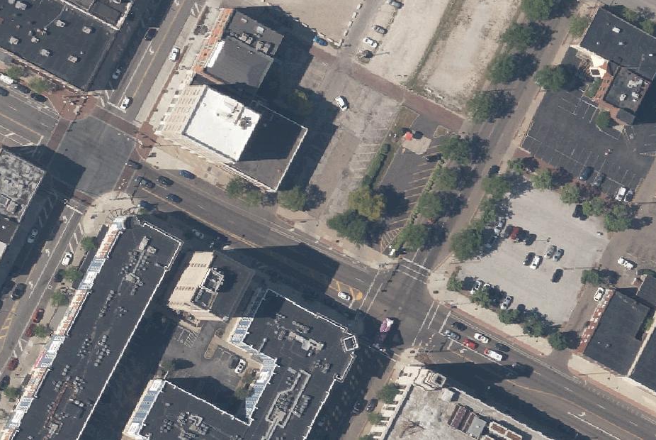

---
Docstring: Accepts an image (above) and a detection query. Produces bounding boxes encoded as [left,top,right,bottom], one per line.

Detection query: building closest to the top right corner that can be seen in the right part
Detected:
[573,8,656,120]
